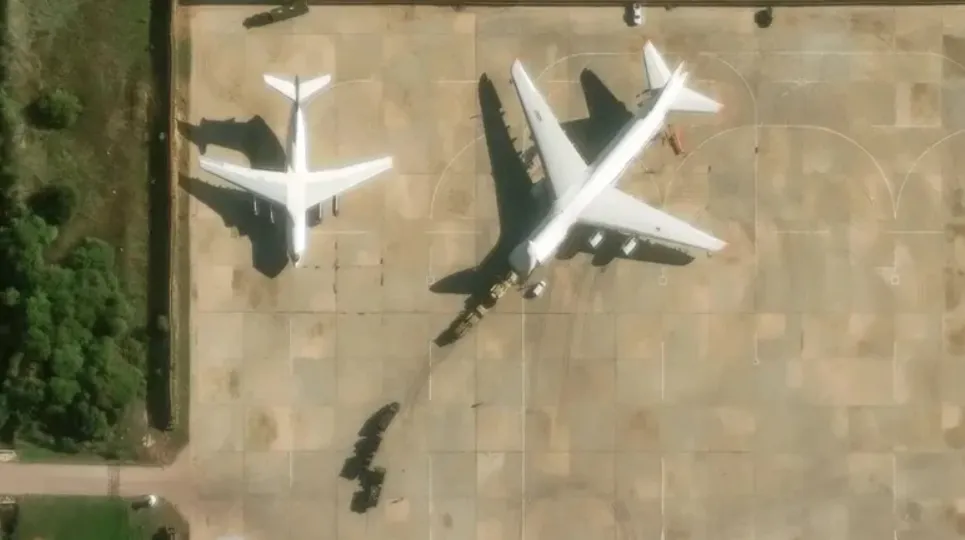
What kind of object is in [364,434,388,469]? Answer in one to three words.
truck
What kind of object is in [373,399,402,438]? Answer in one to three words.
truck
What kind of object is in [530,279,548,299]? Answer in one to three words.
vehicle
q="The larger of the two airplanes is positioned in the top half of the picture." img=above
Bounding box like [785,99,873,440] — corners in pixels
[510,41,728,281]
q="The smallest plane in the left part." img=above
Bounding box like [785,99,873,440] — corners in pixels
[199,74,392,266]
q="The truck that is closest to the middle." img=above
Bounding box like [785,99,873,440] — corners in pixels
[489,266,524,304]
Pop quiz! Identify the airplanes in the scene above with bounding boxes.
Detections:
[510,41,728,281]
[199,74,392,266]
